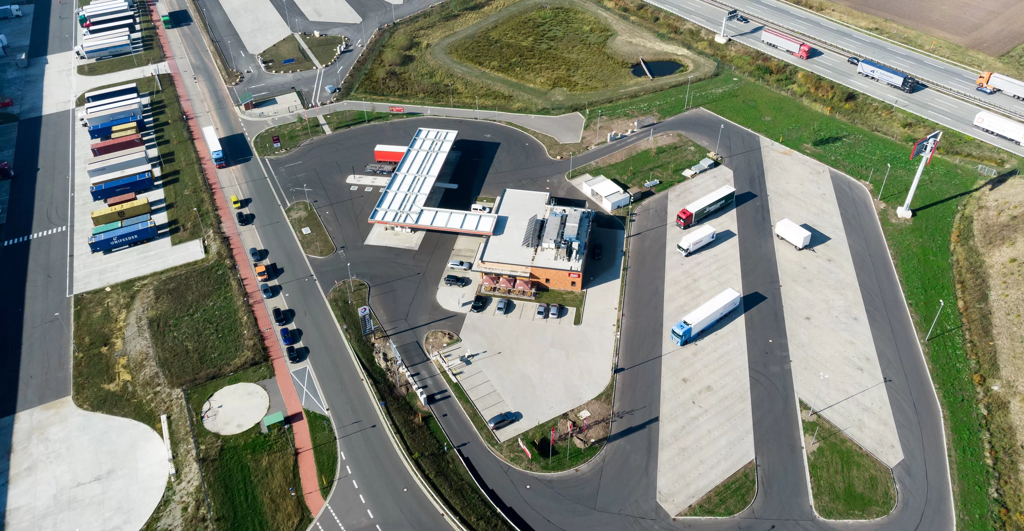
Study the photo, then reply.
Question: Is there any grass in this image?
Yes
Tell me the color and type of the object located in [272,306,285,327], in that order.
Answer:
black vehicle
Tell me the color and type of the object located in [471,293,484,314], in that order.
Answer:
black vehicle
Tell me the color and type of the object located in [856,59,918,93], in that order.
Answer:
white truck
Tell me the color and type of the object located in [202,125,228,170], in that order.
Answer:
white truck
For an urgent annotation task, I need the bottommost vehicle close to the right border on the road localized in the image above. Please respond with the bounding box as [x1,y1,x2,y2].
[972,112,1024,148]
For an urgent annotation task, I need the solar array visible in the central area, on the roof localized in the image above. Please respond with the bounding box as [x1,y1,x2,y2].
[524,220,540,254]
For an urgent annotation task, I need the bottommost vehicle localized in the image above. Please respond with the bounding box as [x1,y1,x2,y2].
[492,414,520,430]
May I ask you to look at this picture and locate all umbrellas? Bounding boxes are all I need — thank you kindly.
[515,279,532,294]
[481,275,499,290]
[497,277,515,292]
